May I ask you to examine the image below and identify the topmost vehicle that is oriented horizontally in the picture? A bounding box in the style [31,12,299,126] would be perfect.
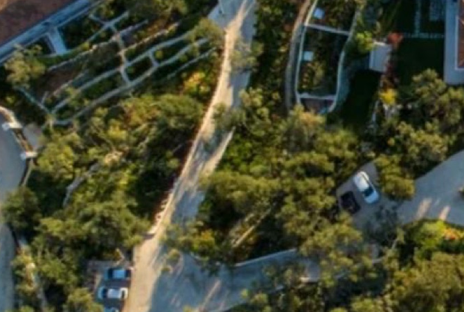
[106,267,135,281]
